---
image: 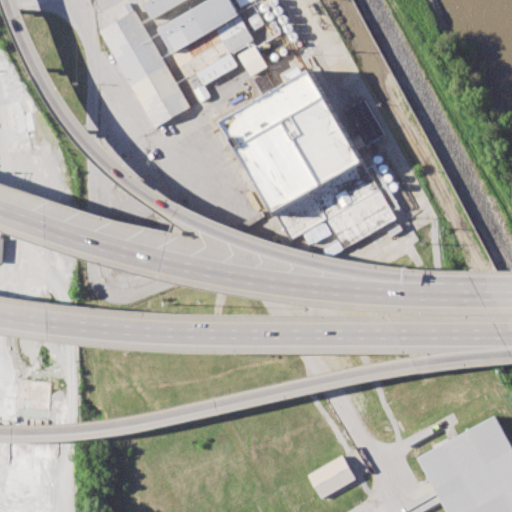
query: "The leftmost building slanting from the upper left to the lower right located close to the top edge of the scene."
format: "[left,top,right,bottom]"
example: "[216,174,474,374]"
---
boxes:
[100,10,191,128]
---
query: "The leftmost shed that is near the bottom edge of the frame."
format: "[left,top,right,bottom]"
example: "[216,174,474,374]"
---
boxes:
[307,454,356,500]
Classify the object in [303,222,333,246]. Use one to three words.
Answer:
shed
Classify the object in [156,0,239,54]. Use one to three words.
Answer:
building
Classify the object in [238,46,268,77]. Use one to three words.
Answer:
building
